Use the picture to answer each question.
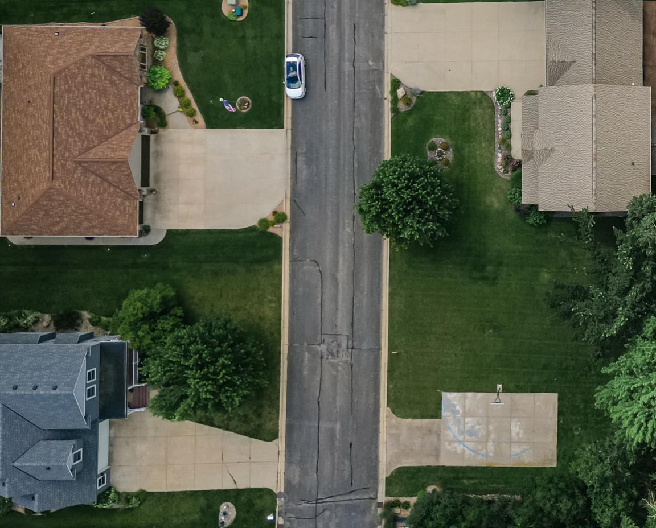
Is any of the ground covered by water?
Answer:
No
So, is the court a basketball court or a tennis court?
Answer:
basketball court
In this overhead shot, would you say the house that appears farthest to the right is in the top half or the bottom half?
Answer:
top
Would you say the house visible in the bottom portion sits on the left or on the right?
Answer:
left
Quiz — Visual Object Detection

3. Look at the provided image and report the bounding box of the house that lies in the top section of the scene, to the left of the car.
[0,24,159,237]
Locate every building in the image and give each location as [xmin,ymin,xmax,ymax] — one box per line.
[522,0,656,213]
[0,24,159,237]
[0,330,153,512]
